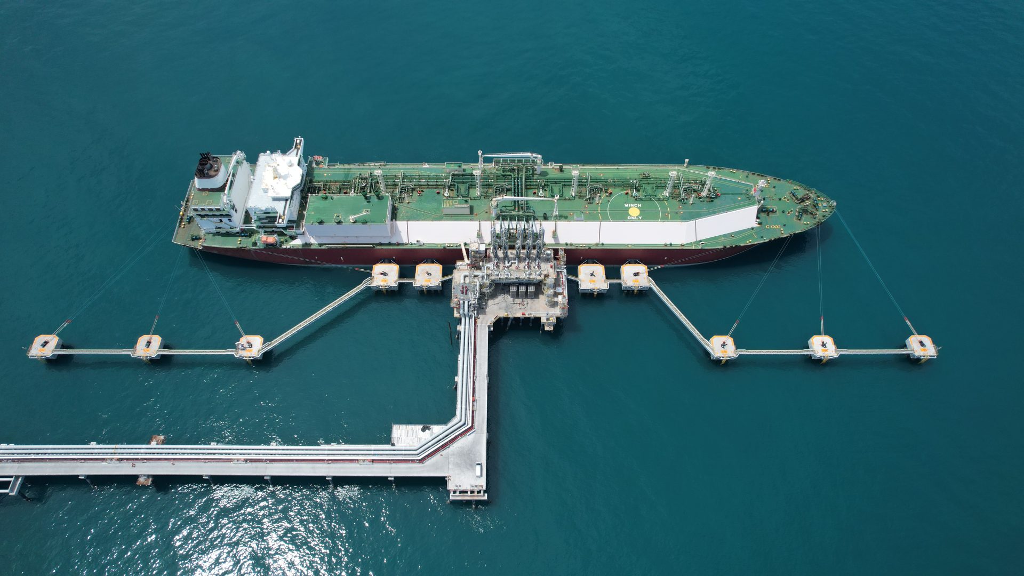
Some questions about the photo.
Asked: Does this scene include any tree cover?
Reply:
No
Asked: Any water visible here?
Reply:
Yes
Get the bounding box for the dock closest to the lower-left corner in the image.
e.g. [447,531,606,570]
[0,324,492,491]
